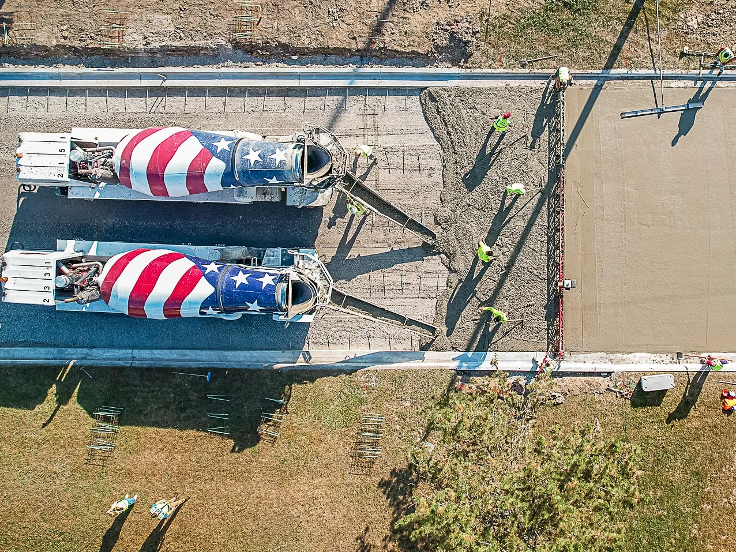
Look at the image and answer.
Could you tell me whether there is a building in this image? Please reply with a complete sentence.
No, I find no building anywhere in the image.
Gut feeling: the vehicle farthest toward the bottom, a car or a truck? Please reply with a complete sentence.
I'd say the vehicle farthest toward the bottom is a truck.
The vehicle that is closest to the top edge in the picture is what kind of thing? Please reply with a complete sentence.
I'd identify the vehicle that is closest to the top edge as a truck.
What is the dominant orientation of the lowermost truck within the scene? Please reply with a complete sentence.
Seen from above, the lowermost truck lies from side to side.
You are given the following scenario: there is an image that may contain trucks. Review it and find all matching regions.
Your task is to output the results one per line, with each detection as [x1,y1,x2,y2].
[16,127,441,251]
[1,237,441,344]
